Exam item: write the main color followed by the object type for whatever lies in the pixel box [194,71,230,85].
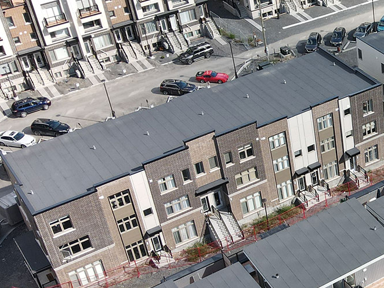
red car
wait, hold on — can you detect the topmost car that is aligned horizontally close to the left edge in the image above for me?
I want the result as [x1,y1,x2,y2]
[11,93,51,114]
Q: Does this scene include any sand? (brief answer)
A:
No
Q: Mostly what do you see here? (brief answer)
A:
buildings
